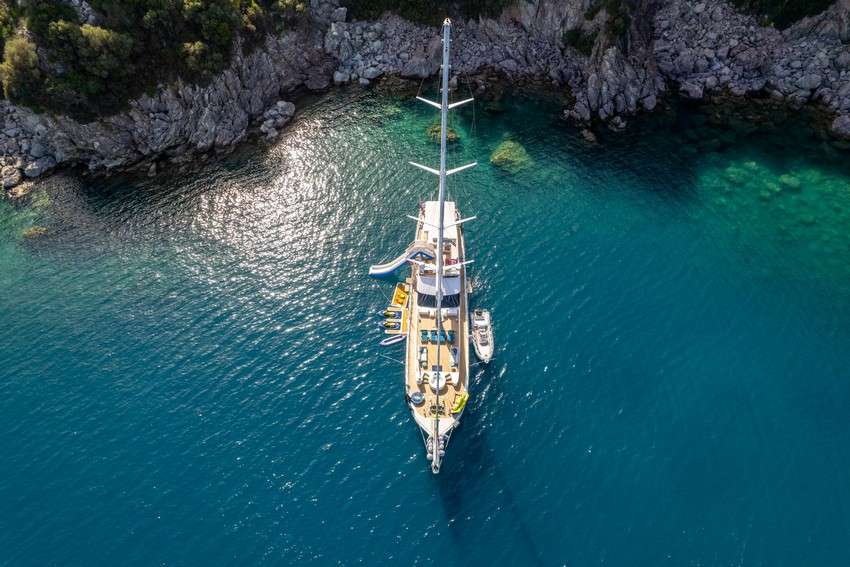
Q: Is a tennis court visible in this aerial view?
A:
No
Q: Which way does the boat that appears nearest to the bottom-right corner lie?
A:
from top to bottom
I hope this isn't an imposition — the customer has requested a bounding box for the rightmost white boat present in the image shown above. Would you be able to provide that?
[471,306,493,363]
